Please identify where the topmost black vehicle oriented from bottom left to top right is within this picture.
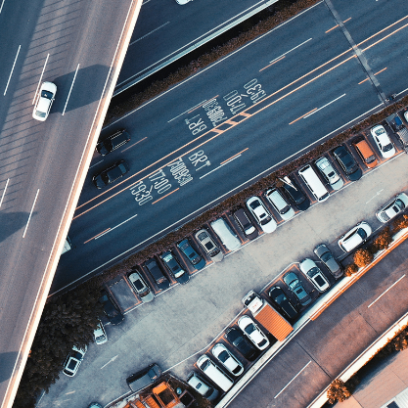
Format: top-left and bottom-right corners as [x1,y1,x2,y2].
[96,127,133,157]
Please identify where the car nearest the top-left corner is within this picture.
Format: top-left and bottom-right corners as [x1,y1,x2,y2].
[32,82,57,124]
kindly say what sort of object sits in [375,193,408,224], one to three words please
car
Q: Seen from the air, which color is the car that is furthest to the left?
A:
white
